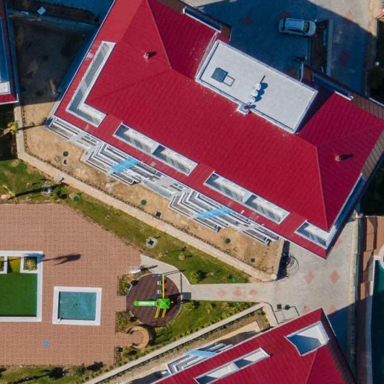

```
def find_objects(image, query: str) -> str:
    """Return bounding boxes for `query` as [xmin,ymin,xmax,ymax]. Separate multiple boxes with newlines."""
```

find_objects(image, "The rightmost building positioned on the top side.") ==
[42,0,384,261]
